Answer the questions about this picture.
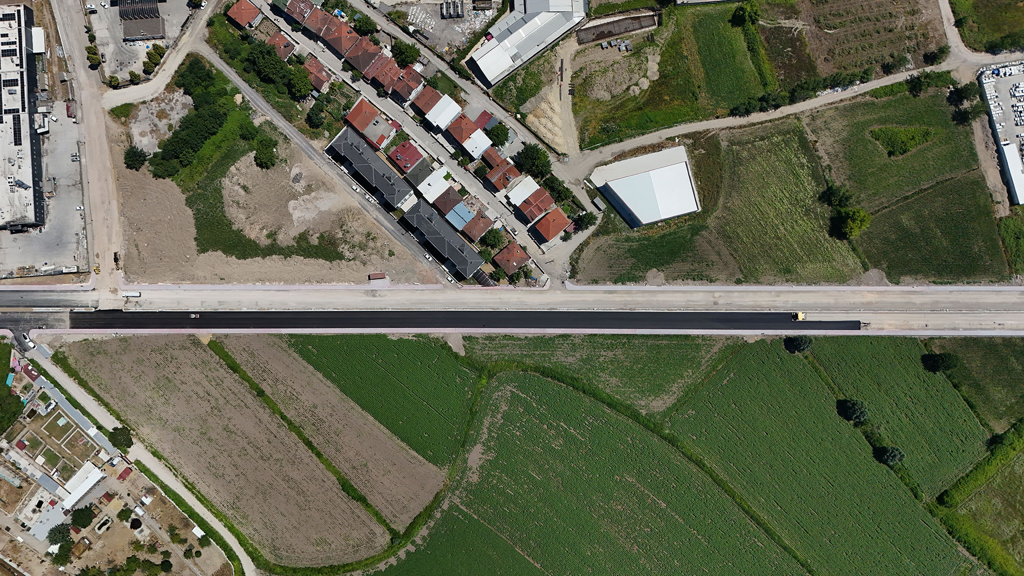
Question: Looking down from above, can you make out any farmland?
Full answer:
Yes, some farmland is visible.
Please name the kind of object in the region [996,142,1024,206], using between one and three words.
building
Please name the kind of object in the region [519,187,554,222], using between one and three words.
house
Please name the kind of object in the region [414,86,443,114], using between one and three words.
house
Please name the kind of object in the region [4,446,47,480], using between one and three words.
barn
